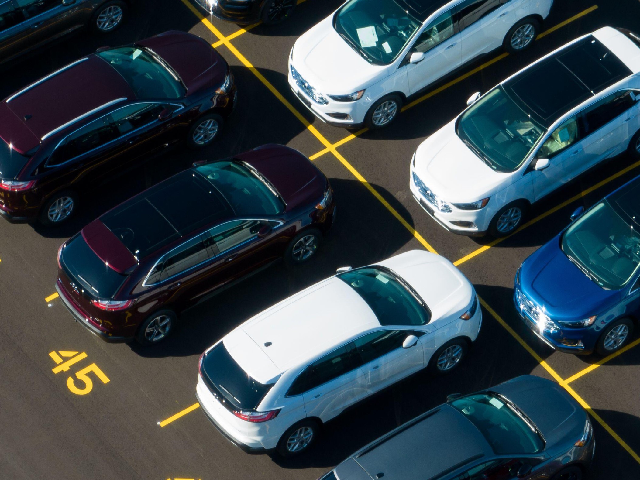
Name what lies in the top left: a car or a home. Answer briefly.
car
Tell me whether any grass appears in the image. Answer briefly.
No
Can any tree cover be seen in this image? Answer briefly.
No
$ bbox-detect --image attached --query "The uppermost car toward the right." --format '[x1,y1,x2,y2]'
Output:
[289,0,559,130]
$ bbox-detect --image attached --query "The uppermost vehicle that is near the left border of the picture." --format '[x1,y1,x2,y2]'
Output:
[0,0,137,77]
